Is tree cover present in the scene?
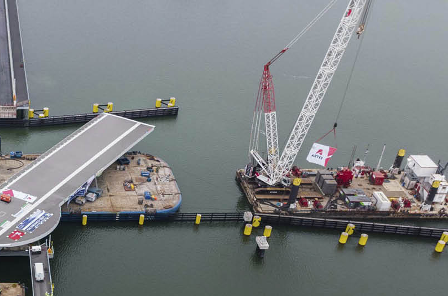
No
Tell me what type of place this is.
port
